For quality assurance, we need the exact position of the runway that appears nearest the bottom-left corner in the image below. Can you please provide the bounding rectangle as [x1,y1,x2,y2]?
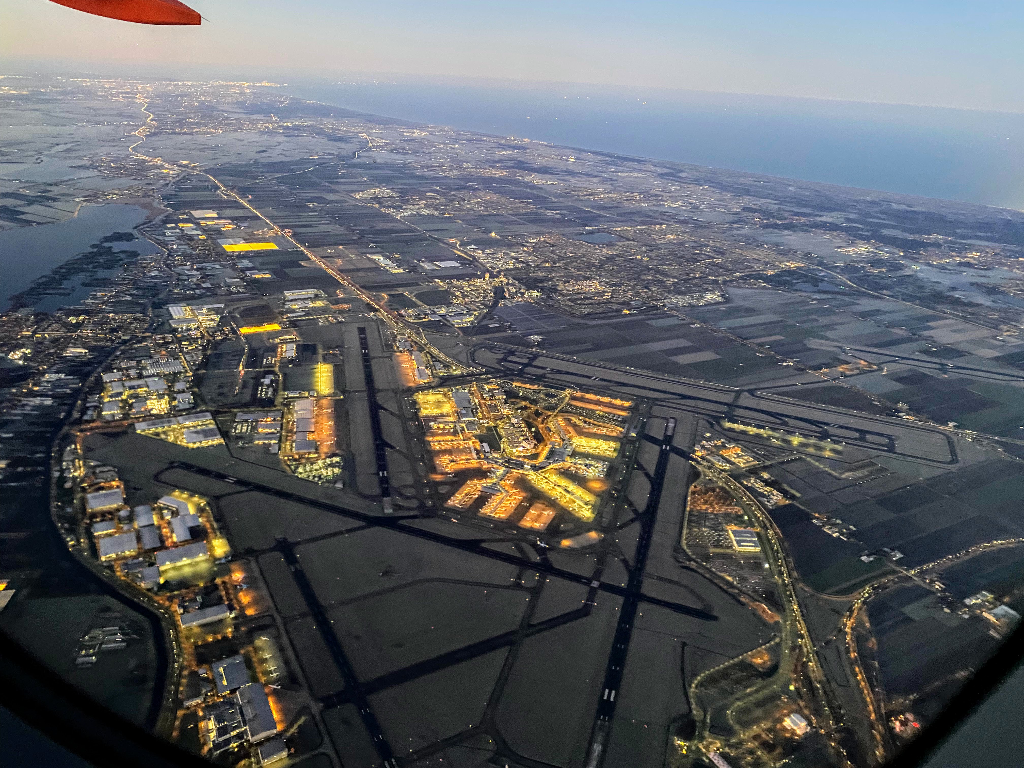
[276,536,401,768]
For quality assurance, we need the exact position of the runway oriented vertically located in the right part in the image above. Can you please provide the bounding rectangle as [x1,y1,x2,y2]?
[585,419,677,768]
